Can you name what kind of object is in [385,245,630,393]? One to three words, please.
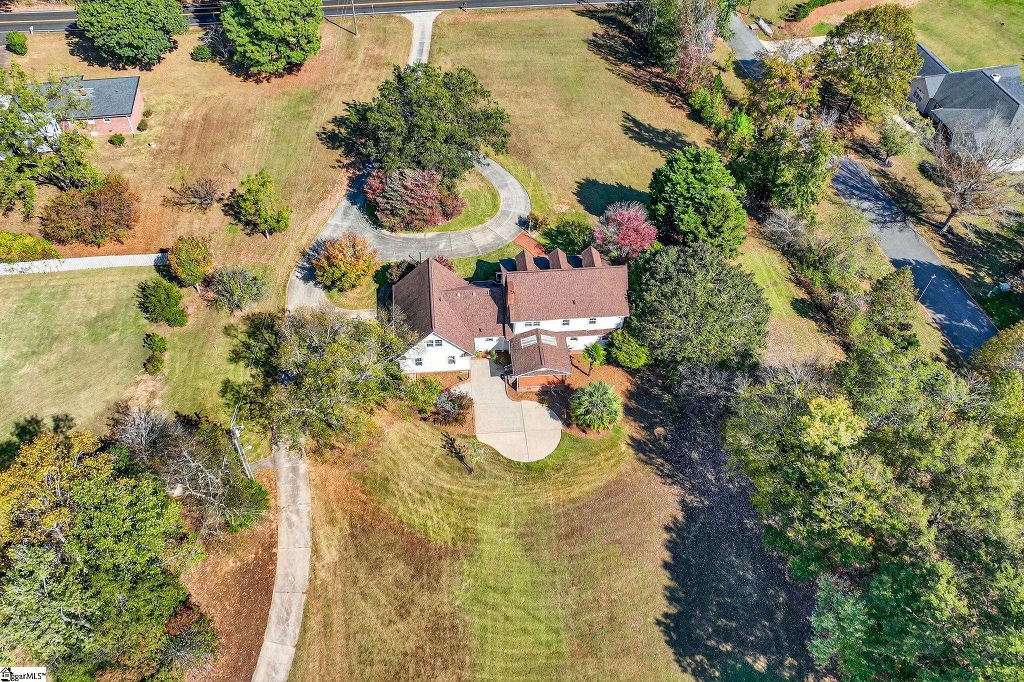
house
